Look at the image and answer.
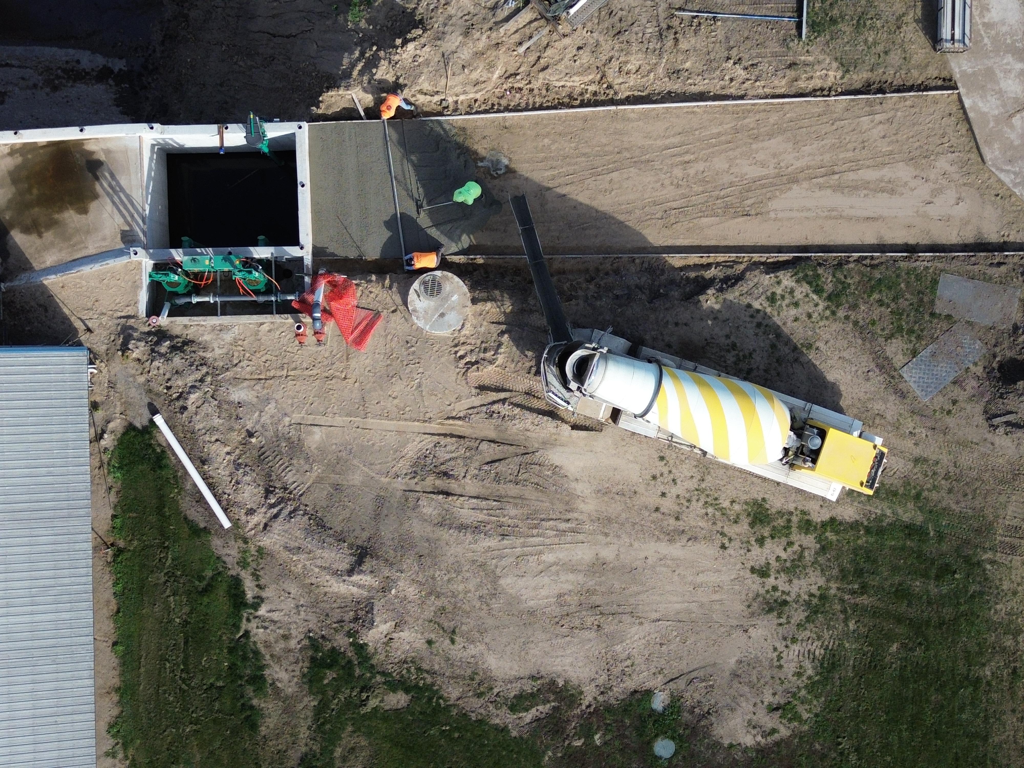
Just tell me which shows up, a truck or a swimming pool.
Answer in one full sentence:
There is a truck in the scene.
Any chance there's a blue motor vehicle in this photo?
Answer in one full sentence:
No, the frame has no blue motor vehicle in it.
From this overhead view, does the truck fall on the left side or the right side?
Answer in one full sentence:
The truck sits on the right side.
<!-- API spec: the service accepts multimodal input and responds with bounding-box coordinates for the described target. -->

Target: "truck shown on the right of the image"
[510,193,889,500]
